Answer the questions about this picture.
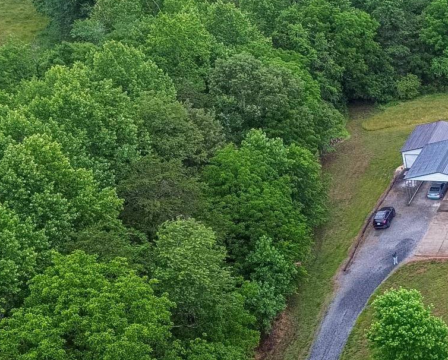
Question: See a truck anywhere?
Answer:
No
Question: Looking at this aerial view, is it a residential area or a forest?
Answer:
forest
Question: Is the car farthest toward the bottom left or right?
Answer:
right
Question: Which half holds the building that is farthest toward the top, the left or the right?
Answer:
right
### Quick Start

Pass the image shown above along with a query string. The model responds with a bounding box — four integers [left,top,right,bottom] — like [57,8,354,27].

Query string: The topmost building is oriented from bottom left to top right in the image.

[398,118,448,169]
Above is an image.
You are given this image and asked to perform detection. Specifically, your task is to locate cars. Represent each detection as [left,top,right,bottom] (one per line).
[373,203,399,227]
[427,182,448,197]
